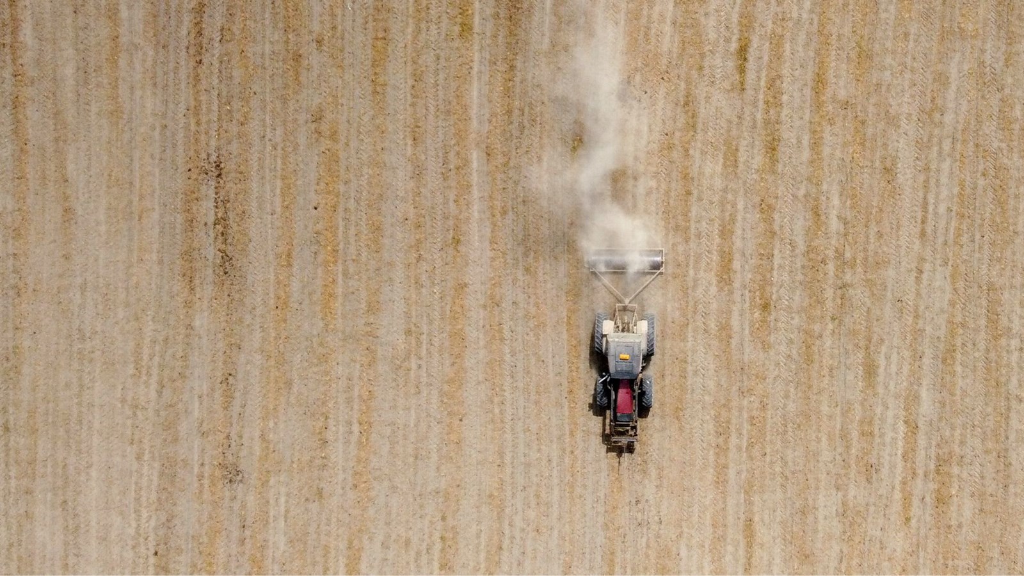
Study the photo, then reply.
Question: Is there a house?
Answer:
No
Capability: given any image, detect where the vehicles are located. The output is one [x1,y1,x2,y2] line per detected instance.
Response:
[595,304,655,462]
